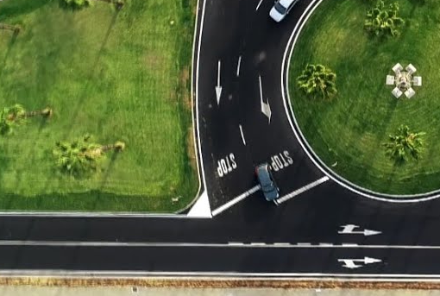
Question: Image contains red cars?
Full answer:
No, the photo shows no red car.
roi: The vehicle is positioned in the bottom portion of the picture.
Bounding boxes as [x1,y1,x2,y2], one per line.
[255,163,279,200]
